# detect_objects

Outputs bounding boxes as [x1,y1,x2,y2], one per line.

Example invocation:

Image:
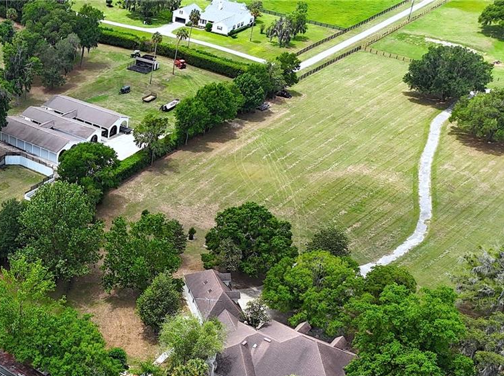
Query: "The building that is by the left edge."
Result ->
[0,93,135,164]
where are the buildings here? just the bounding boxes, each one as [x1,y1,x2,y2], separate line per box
[136,58,162,70]
[173,5,269,36]
[183,268,376,376]
[0,93,135,164]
